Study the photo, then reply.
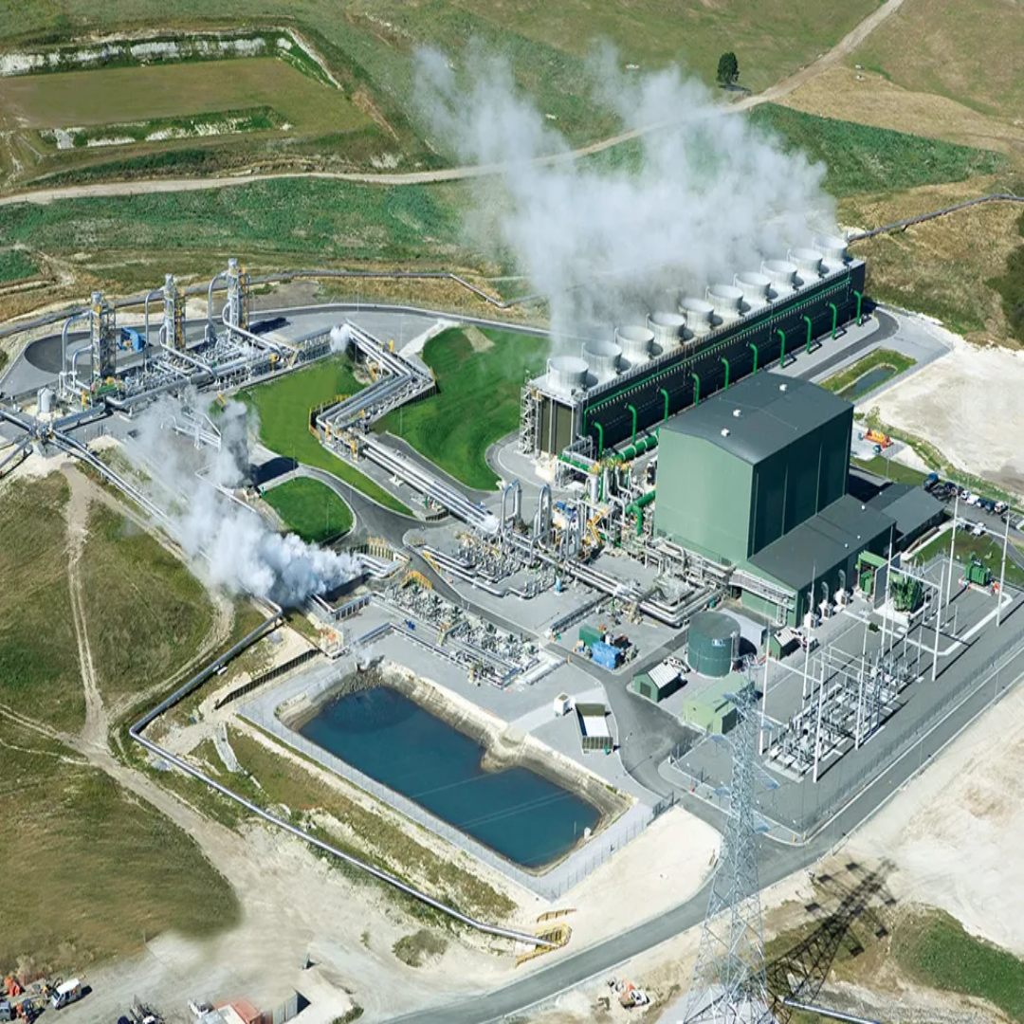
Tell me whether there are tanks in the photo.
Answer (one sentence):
Yes, the photo shows a tank.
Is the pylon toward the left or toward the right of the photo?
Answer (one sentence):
The pylon appears in the right half of the scene.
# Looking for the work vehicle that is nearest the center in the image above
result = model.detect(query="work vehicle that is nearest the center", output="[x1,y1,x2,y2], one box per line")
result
[612,634,629,646]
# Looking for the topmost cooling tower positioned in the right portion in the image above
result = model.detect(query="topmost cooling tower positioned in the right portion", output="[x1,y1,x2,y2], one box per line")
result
[518,234,868,463]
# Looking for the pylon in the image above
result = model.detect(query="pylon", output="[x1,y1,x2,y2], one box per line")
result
[693,682,790,1024]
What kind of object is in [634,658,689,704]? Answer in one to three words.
shed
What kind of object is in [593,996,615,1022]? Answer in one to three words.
work vehicle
